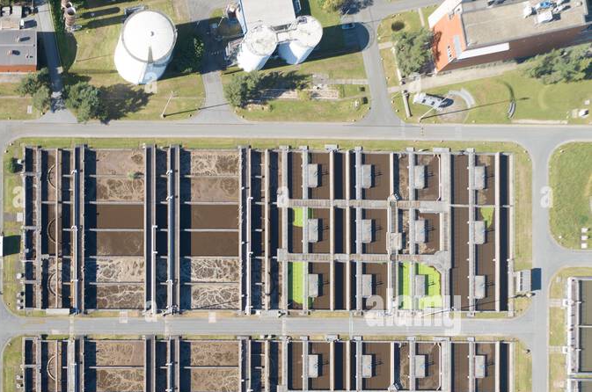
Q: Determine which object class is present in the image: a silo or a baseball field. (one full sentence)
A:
Looking from above, you can make out a silo.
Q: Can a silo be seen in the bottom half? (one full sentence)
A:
No, no silo can be made out in the bottom half.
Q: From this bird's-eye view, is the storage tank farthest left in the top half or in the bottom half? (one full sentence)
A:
It is in the top half that the storage tank farthest left appears.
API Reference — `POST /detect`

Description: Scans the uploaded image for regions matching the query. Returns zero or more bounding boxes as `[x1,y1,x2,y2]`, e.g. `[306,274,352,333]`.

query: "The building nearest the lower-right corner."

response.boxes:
[513,270,531,293]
